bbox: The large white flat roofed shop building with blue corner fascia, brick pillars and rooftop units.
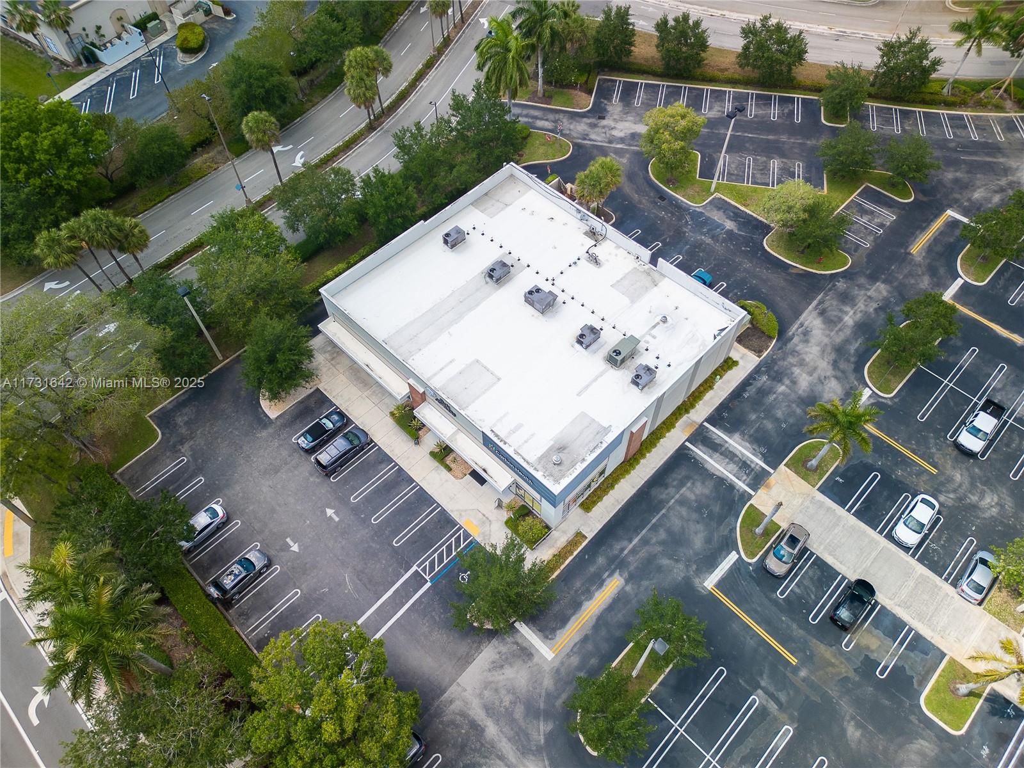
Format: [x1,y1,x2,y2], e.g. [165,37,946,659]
[315,165,745,526]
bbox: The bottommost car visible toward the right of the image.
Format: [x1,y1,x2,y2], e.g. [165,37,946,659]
[828,579,878,634]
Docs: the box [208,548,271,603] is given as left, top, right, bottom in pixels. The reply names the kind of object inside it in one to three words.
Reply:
car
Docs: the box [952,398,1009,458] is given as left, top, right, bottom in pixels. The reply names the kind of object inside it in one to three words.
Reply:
truck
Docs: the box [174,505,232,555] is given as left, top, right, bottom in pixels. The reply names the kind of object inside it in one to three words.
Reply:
car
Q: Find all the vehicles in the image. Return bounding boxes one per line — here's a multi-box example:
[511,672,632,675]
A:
[760,525,812,580]
[892,494,941,547]
[953,547,999,601]
[208,548,271,603]
[314,431,371,478]
[952,398,1009,458]
[693,269,720,290]
[174,505,232,555]
[294,411,344,452]
[828,579,878,634]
